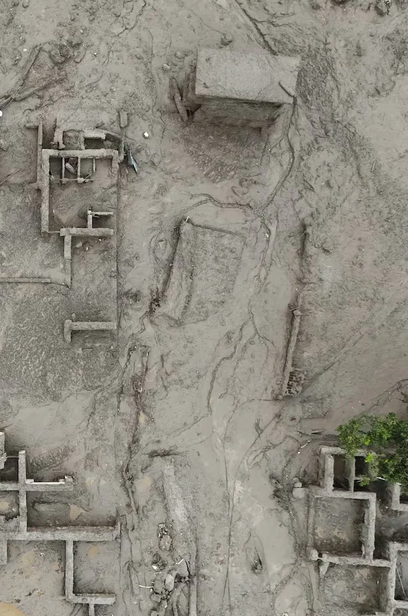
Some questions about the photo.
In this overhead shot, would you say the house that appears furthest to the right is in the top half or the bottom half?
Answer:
bottom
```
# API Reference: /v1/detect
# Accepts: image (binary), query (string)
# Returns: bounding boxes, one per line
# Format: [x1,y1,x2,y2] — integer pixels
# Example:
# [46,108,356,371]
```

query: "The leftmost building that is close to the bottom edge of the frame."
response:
[0,447,119,616]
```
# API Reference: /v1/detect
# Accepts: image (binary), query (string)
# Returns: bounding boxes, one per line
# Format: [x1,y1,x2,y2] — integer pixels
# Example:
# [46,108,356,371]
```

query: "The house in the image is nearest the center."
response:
[63,320,116,342]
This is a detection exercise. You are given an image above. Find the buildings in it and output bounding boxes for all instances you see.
[0,447,119,616]
[180,47,301,132]
[302,444,408,616]
[63,320,116,342]
[0,123,125,288]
